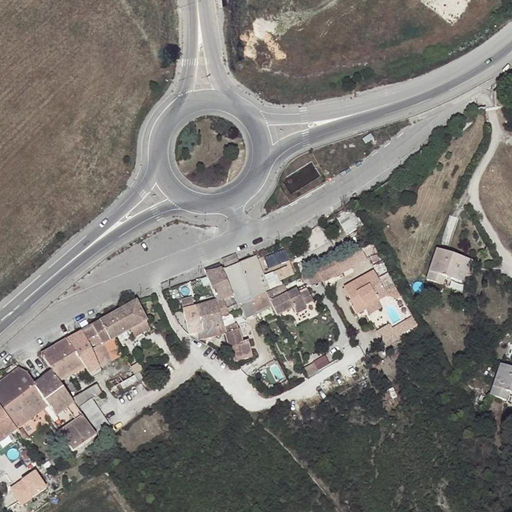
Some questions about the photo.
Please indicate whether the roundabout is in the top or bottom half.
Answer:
top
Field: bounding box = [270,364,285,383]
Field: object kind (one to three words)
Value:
swimming pool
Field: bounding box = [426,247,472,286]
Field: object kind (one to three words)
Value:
house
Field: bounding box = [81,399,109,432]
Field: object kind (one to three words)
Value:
shed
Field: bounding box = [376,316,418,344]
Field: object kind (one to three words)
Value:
building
